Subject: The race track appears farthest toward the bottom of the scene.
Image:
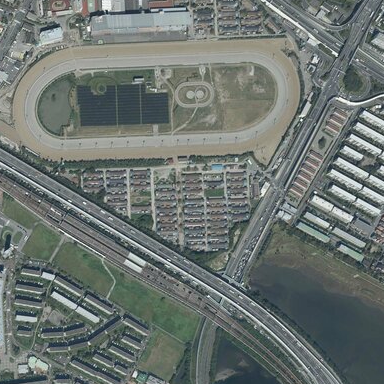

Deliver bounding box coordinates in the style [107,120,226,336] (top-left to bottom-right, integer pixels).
[0,37,301,167]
